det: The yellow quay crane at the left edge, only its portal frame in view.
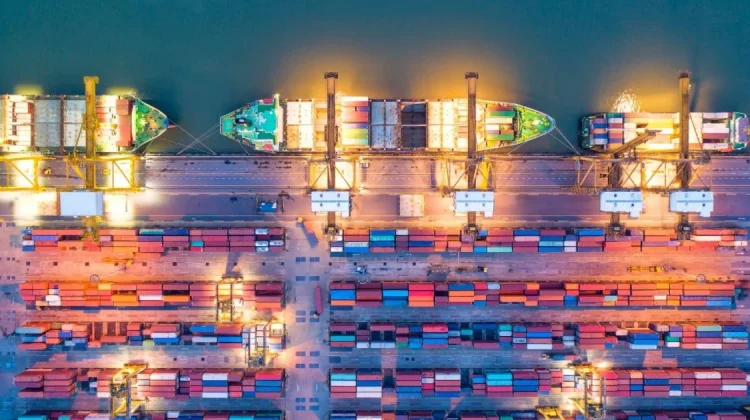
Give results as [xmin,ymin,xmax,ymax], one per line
[0,126,77,213]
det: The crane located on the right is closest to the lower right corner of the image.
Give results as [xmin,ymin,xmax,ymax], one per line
[568,362,611,420]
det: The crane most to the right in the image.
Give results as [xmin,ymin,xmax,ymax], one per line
[620,73,715,240]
